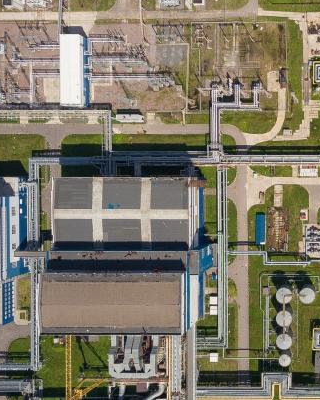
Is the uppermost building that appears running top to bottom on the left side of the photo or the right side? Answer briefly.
left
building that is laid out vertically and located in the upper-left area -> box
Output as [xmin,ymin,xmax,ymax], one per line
[60,34,91,108]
